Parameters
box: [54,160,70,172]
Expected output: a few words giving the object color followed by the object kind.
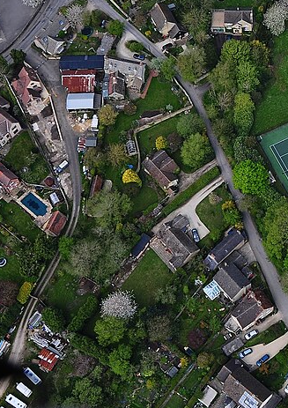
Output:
white vehicle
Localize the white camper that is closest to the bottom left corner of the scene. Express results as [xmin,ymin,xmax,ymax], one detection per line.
[8,395,24,408]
